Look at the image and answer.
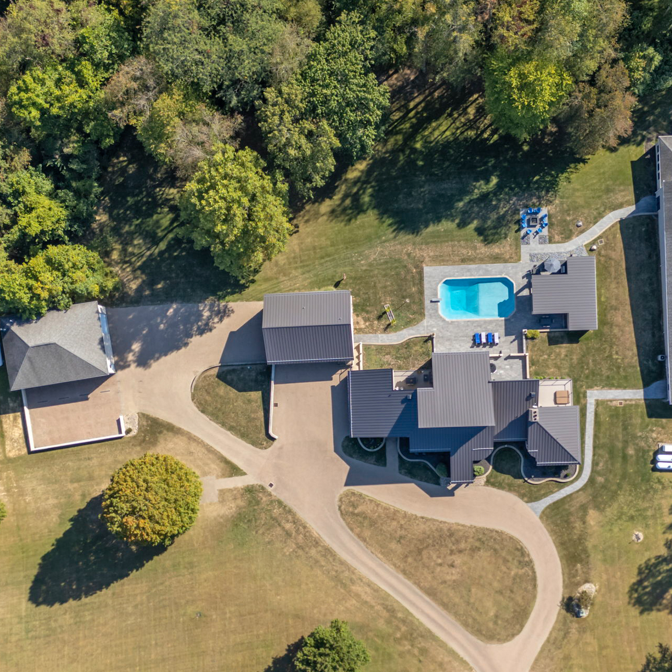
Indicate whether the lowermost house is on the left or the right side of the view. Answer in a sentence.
The lowermost house appears in the right half of the scene.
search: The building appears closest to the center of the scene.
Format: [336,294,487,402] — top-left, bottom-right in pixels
[262,290,355,365]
